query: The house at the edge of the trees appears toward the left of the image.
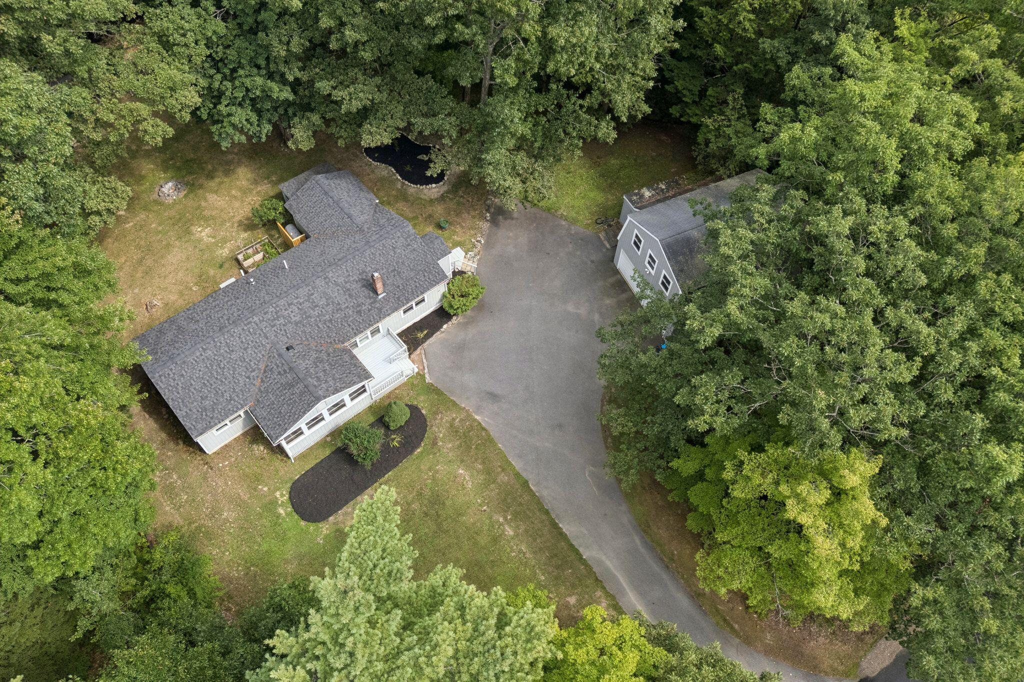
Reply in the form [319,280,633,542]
[131,162,452,462]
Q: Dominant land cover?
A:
trees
